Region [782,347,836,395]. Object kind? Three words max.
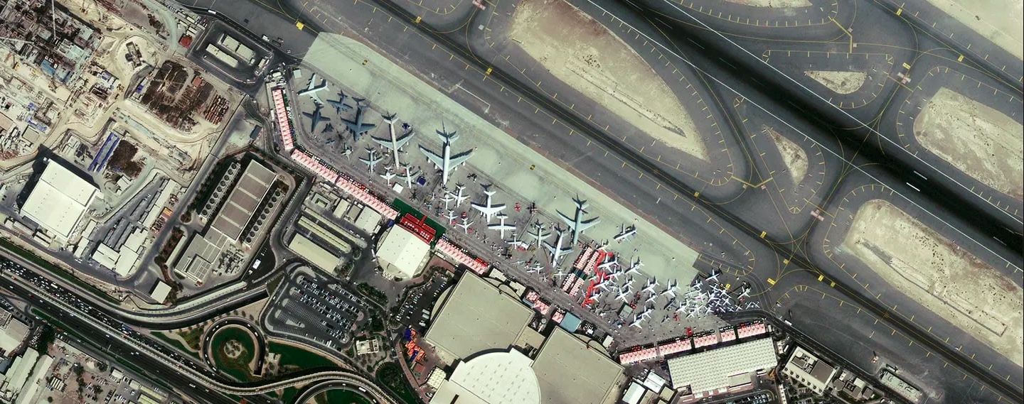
building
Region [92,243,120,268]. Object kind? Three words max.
shed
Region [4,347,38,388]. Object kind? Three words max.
shed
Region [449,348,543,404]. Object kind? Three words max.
building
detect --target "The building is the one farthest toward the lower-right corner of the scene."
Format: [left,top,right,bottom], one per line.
[880,370,922,402]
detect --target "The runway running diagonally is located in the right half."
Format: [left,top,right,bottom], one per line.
[586,0,1024,273]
